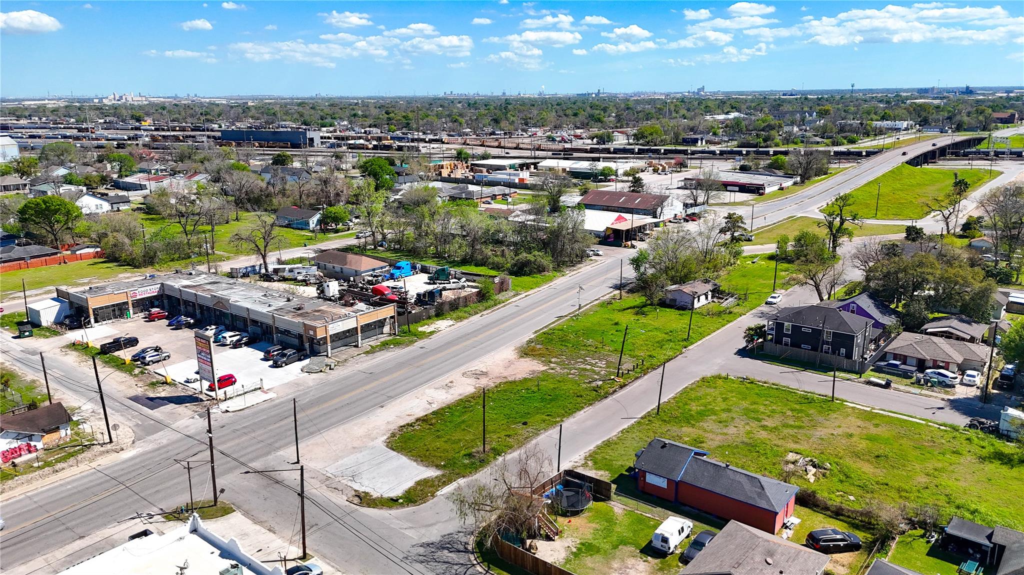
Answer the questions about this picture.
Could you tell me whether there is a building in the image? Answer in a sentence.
Yes, there's a building down there.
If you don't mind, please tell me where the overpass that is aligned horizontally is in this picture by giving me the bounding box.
[854,133,1002,169]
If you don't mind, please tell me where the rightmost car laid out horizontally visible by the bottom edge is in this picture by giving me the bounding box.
[803,521,870,553]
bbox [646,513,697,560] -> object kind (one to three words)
van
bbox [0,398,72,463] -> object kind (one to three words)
house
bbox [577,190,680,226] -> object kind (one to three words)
shed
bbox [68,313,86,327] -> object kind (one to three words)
car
